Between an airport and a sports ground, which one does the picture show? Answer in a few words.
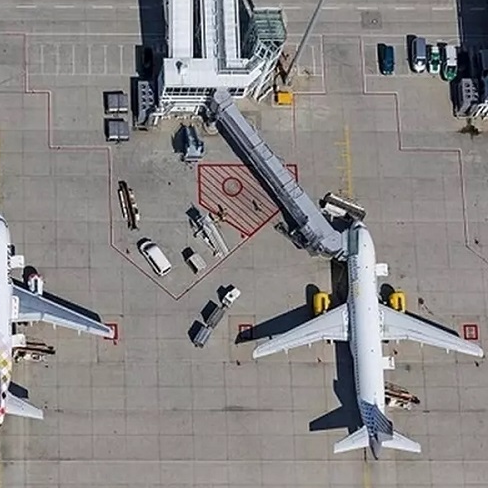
airport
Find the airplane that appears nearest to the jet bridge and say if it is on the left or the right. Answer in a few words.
right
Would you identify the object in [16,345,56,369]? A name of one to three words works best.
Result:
work vehicle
